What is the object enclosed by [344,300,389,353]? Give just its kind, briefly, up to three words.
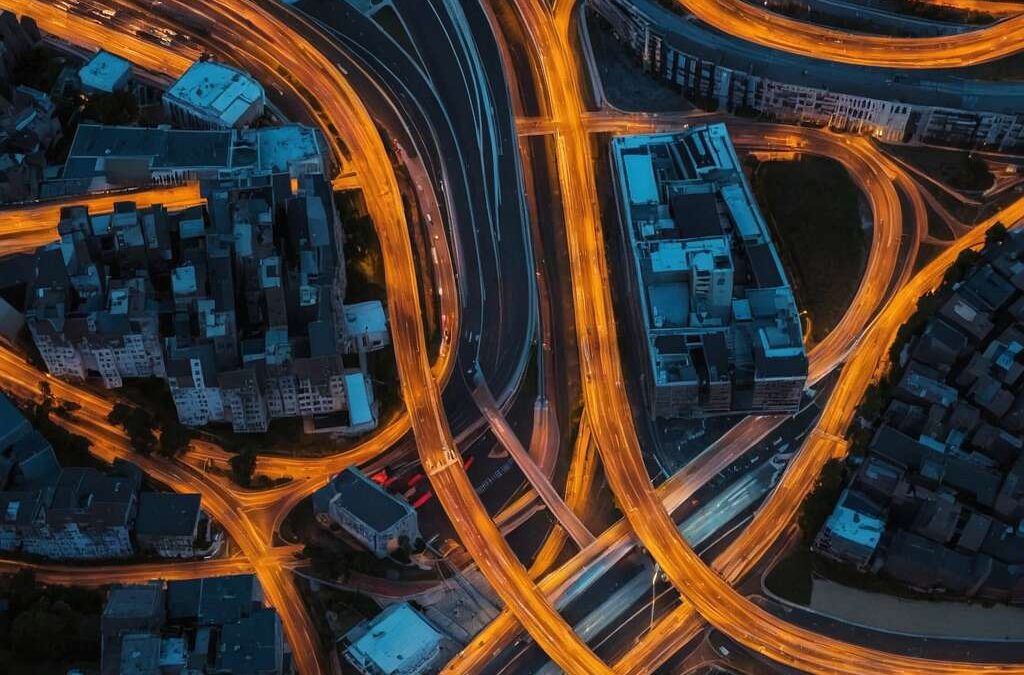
house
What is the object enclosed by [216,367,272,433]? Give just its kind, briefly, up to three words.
building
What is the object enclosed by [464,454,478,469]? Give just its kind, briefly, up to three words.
vehicle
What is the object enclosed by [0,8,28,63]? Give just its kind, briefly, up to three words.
house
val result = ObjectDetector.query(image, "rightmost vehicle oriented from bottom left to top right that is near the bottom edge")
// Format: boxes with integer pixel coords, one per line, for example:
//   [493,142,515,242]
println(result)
[717,640,732,659]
